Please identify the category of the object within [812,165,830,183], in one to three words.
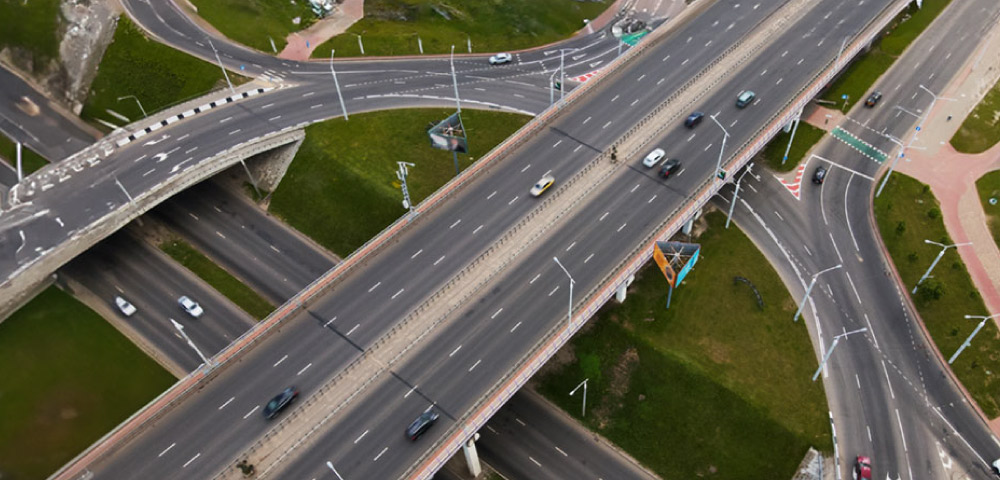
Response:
car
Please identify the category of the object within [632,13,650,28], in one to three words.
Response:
car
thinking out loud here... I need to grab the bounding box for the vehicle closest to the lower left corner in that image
[110,296,136,316]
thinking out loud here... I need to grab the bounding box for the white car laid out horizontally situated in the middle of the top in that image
[488,52,513,64]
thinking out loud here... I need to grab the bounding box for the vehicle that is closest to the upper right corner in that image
[864,90,883,105]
